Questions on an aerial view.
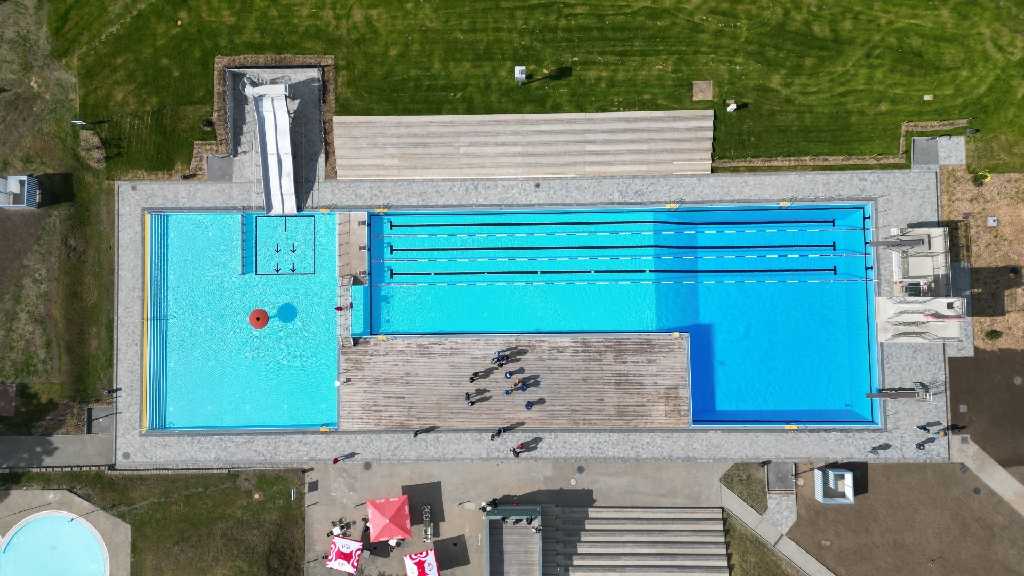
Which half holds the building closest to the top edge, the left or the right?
left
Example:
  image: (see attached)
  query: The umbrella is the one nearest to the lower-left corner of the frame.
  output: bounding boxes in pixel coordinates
[326,535,364,574]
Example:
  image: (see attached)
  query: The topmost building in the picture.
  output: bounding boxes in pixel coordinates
[0,174,39,208]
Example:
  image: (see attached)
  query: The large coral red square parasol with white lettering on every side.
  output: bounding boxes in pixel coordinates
[366,495,412,543]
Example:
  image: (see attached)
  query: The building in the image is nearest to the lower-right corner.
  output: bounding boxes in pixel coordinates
[815,467,857,503]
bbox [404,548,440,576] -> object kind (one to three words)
umbrella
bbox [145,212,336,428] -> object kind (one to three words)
swimming pool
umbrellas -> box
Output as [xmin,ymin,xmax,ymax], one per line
[326,535,364,574]
[404,548,440,576]
[366,495,412,543]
